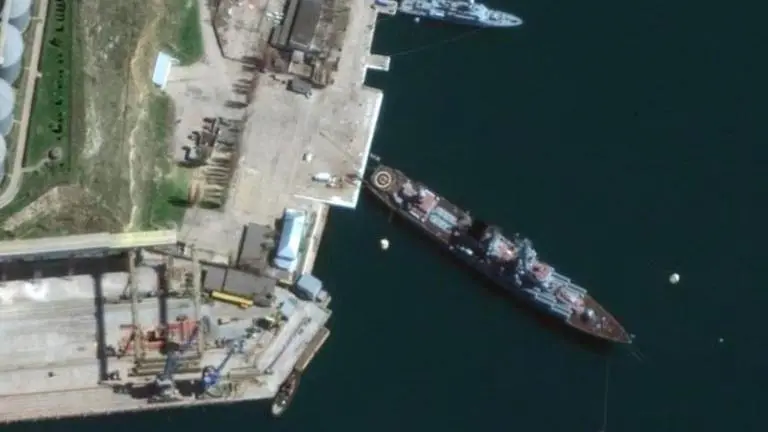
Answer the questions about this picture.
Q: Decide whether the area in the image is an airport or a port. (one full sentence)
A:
What you see here is a port.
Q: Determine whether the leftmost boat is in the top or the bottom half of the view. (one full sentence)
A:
Seen from above, the leftmost boat lies in the bottom half of the view.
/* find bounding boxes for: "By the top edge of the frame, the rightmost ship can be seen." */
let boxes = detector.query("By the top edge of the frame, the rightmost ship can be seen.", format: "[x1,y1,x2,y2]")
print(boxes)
[394,0,522,28]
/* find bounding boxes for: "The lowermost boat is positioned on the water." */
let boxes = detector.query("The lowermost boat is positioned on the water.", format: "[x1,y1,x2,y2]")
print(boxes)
[272,372,302,414]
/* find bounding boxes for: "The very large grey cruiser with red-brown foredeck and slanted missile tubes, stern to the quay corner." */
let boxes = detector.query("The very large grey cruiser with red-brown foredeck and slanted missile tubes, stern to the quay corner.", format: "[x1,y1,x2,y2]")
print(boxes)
[365,166,629,344]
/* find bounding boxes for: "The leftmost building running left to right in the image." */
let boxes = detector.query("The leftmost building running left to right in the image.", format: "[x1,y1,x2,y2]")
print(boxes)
[0,230,178,280]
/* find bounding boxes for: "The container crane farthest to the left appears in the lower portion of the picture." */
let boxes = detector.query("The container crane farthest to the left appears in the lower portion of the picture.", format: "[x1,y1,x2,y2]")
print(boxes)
[124,248,148,386]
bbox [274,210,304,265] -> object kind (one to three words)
building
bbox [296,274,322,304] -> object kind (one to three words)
house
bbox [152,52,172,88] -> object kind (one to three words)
shed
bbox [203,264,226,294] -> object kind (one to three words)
building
